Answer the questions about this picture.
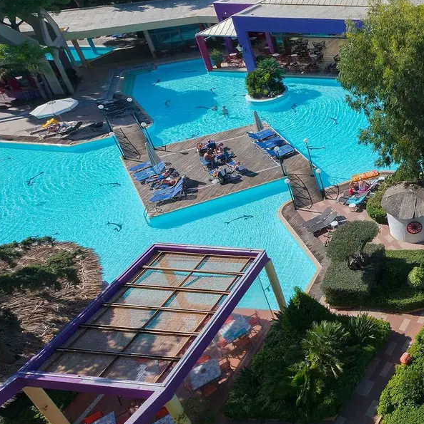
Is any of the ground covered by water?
Yes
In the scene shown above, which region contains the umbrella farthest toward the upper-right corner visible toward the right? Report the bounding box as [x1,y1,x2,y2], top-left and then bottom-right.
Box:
[249,97,263,131]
